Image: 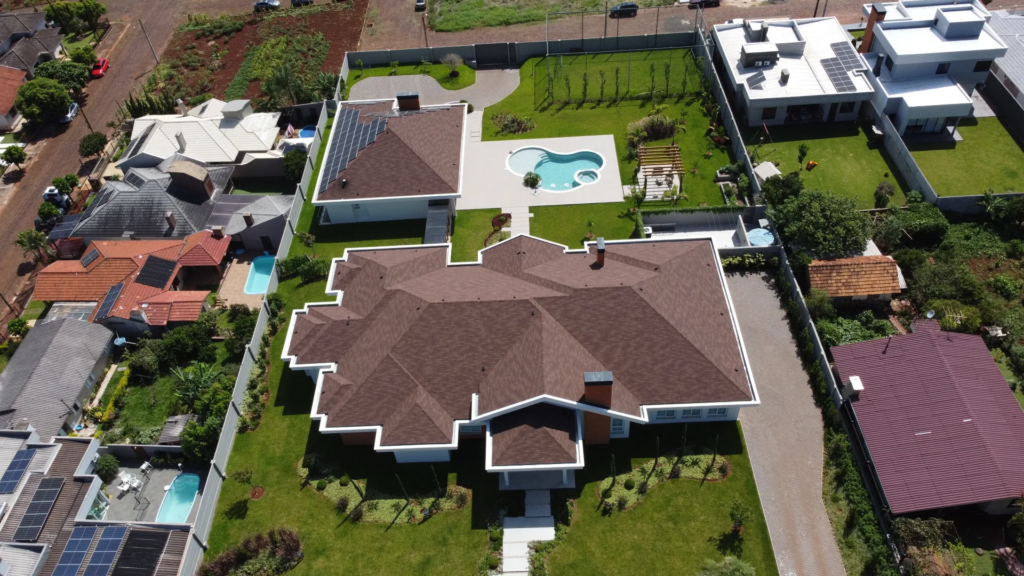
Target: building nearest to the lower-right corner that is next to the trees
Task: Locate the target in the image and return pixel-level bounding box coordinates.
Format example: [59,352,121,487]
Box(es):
[828,319,1024,520]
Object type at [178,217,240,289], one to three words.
gazebo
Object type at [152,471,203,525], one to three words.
swimming pool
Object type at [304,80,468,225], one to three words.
shed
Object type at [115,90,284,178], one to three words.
house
